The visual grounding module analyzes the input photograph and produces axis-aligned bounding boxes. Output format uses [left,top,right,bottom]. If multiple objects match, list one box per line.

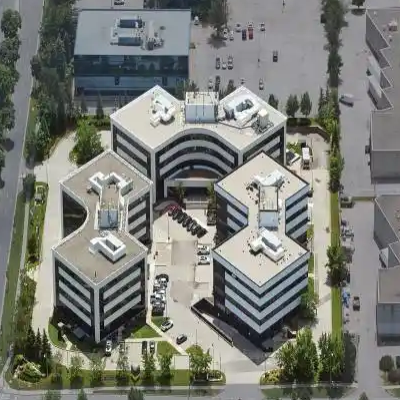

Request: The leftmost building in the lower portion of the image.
[52,151,153,340]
